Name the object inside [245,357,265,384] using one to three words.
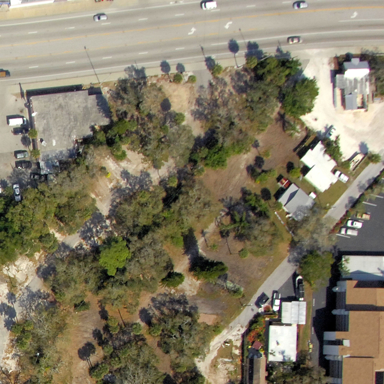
shed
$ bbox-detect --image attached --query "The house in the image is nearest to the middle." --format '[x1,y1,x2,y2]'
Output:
[278,183,315,217]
